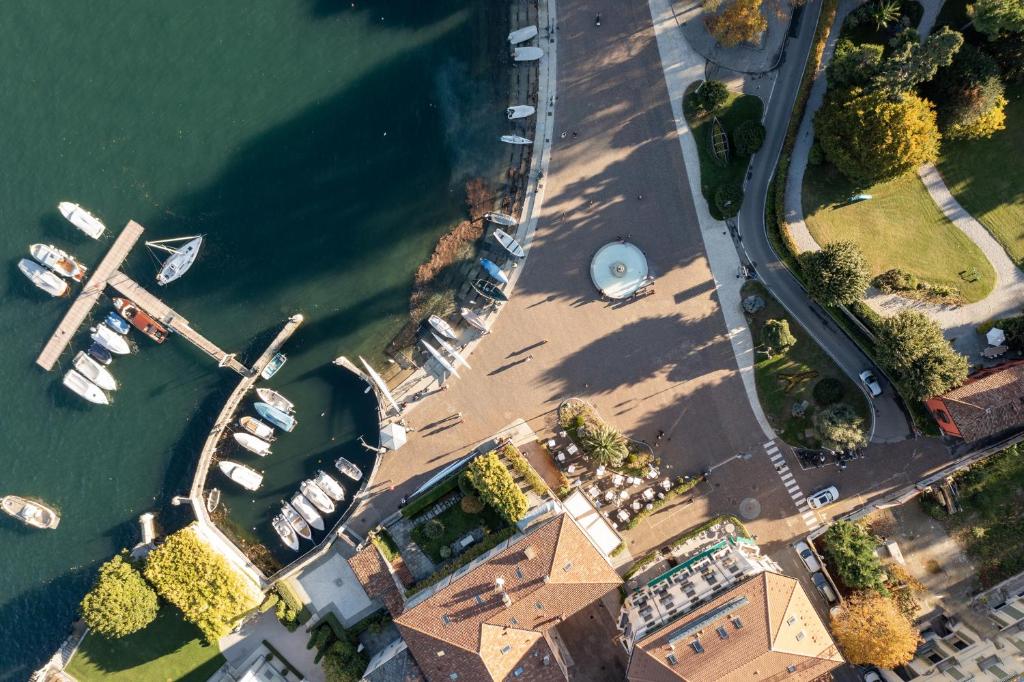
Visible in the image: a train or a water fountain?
water fountain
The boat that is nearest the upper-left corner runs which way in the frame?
on a diagonal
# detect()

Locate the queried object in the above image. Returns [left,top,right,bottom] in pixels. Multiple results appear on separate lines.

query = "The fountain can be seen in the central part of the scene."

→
[589,240,649,300]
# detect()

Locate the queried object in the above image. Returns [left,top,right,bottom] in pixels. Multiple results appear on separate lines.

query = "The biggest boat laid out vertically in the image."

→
[712,115,729,164]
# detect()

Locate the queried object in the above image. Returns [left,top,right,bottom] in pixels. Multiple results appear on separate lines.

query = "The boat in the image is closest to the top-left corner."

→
[56,204,106,240]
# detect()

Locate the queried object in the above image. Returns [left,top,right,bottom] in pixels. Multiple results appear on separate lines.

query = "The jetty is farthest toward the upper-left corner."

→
[36,221,251,378]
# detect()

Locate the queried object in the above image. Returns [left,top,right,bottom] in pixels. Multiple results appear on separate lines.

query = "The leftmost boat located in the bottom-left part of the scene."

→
[0,498,62,532]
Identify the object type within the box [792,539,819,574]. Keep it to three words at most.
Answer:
car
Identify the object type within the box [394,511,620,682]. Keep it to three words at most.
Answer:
house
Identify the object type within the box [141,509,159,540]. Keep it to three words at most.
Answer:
pier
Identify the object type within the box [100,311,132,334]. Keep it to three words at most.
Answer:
boat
